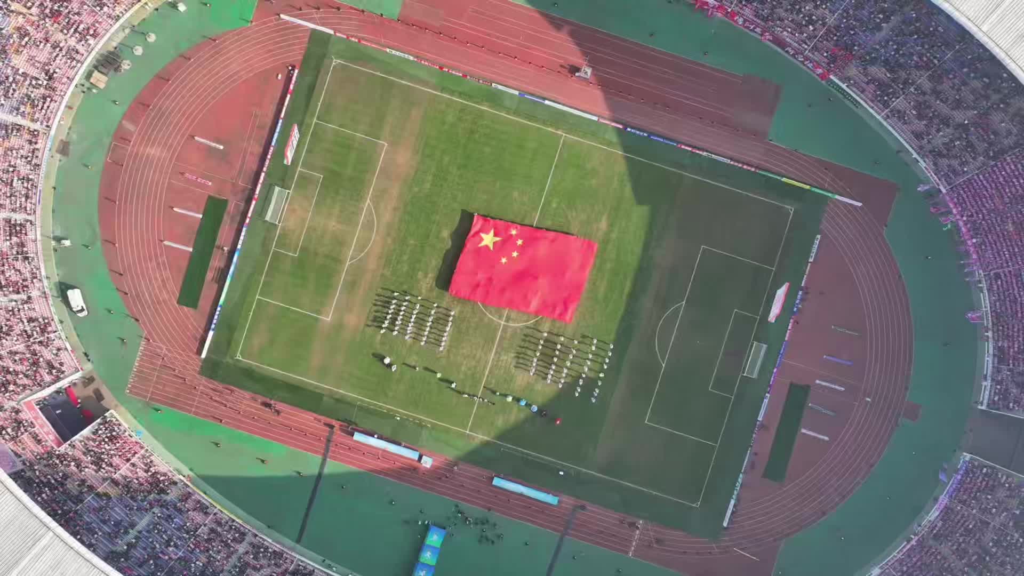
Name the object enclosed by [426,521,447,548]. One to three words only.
tent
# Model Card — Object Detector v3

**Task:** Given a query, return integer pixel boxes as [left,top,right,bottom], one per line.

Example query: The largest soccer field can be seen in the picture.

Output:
[200,29,827,539]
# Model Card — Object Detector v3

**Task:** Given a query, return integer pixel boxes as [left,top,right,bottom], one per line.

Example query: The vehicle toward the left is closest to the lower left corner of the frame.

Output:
[66,290,87,315]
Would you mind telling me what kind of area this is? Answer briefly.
sports ground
